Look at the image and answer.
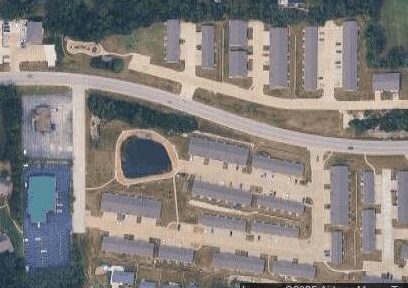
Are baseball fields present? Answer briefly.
No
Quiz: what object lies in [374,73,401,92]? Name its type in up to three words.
building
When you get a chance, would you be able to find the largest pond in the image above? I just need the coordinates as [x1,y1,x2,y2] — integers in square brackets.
[122,138,171,178]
